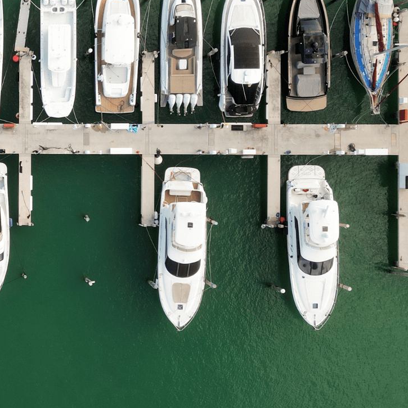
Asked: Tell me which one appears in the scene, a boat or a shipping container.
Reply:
boat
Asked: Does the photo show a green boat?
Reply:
No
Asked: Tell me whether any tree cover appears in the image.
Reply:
No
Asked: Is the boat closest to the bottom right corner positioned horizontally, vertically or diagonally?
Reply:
vertically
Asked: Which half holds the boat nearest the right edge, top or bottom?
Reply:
top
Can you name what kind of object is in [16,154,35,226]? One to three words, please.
pier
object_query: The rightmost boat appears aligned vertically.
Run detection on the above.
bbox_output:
[353,0,408,114]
